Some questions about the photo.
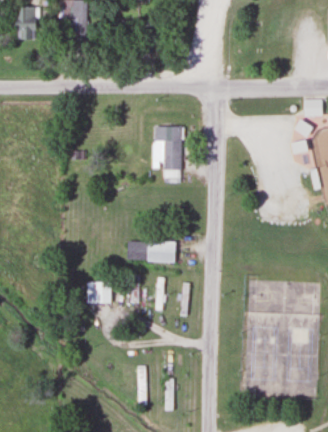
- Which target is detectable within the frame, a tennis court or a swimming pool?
tennis court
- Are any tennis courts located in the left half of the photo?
No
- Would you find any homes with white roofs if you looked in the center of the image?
Yes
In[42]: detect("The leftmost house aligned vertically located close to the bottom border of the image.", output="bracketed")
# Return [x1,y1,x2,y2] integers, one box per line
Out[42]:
[137,365,150,410]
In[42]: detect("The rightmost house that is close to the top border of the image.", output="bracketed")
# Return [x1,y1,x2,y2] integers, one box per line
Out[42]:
[64,0,88,36]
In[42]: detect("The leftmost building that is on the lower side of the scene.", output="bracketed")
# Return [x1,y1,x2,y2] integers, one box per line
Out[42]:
[88,282,112,306]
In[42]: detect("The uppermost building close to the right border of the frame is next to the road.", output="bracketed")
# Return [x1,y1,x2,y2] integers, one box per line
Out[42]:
[304,99,323,117]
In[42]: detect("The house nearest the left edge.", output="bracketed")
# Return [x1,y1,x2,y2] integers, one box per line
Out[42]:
[16,7,36,40]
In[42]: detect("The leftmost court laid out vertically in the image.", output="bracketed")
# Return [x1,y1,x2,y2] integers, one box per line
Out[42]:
[244,314,284,397]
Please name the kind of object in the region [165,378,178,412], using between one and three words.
house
